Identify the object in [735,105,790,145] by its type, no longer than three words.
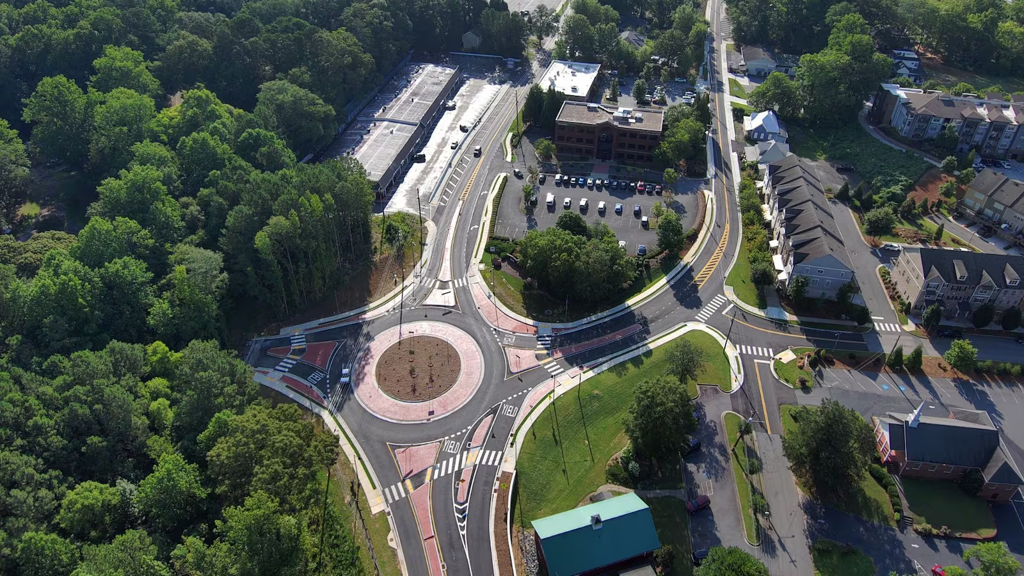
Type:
house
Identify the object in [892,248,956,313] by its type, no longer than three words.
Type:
house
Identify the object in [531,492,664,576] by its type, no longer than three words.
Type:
barn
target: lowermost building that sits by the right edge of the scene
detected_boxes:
[854,388,1024,510]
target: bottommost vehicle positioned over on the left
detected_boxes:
[339,365,352,383]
